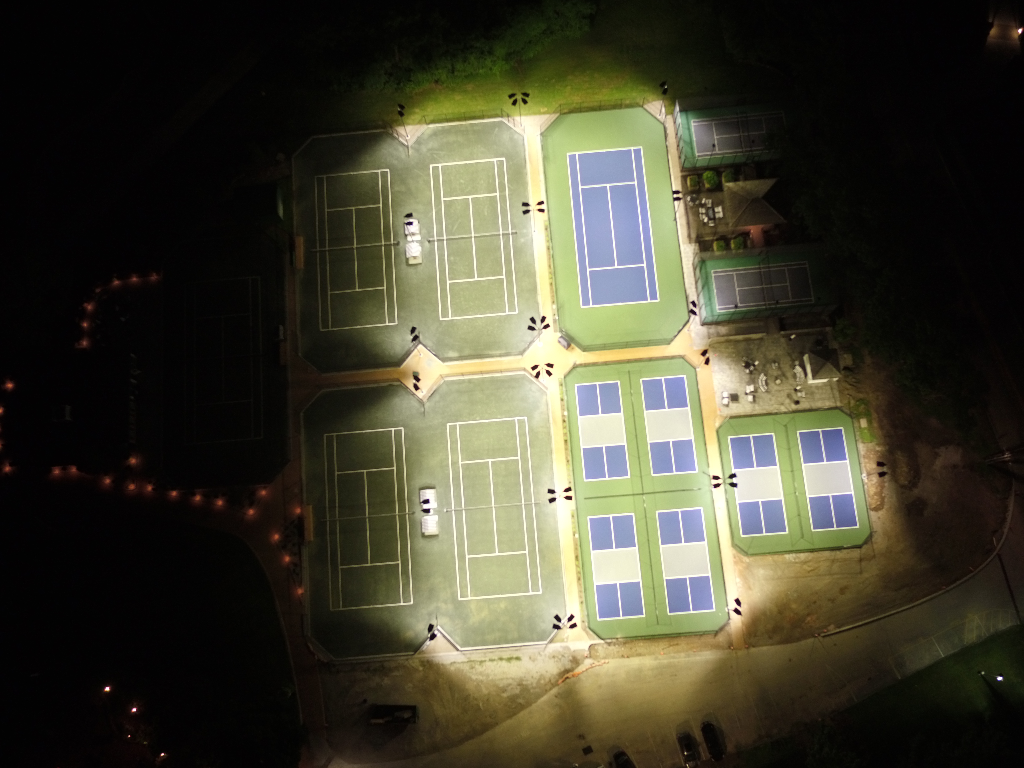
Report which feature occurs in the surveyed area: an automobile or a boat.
automobile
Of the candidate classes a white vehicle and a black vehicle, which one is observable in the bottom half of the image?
black vehicle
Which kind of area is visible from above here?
sports ground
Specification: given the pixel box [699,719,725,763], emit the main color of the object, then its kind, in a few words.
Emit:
black car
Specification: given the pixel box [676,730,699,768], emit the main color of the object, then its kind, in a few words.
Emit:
black car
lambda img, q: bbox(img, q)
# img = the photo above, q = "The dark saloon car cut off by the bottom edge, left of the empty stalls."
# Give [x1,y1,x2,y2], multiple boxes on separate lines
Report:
[612,748,633,768]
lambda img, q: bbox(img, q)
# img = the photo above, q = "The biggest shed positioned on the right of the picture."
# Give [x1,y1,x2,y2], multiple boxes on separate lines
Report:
[724,178,786,230]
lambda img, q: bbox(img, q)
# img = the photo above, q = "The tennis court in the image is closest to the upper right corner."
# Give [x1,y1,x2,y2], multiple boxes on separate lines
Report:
[673,88,814,172]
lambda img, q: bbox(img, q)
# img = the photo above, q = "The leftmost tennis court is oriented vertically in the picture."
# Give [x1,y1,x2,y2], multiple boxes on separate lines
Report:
[164,236,287,488]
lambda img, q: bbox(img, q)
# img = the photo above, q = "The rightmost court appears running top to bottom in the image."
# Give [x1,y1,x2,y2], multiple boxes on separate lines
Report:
[783,409,870,551]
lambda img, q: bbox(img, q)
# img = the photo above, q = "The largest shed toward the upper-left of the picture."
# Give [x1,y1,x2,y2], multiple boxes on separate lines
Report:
[229,175,281,223]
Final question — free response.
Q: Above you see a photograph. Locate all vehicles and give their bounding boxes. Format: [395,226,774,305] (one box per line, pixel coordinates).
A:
[612,748,633,768]
[676,730,699,768]
[699,719,725,763]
